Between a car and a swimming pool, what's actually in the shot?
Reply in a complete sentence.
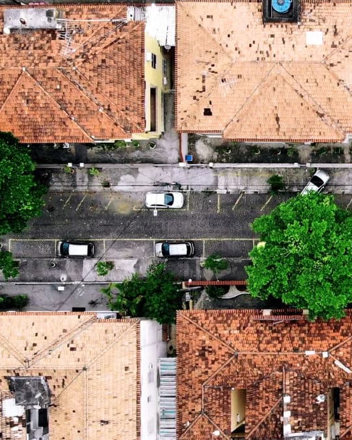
Of the two, only a car appears.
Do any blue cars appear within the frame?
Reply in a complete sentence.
No, there appears to be no blue car in this shot.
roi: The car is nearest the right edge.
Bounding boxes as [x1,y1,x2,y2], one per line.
[300,166,331,197]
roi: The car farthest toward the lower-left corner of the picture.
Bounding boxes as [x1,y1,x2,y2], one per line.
[59,240,96,258]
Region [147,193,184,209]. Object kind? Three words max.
car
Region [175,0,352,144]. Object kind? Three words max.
house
